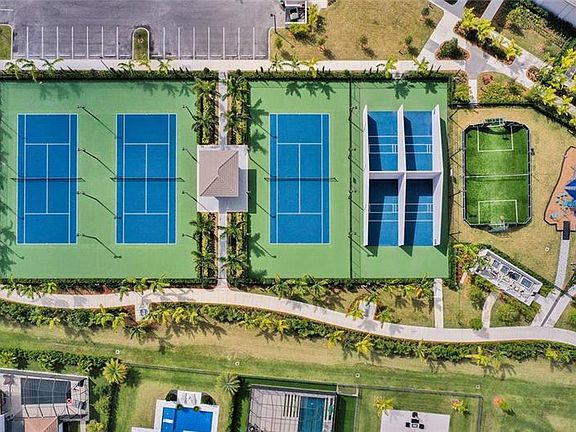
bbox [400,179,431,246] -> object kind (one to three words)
sports court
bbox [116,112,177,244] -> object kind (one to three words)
tennis court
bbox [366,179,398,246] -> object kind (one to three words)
sports court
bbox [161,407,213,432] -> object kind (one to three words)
swimming pool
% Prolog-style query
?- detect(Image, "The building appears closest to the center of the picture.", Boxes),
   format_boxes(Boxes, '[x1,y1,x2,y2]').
[197,145,248,212]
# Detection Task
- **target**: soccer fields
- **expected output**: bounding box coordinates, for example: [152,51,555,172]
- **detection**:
[467,124,530,225]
